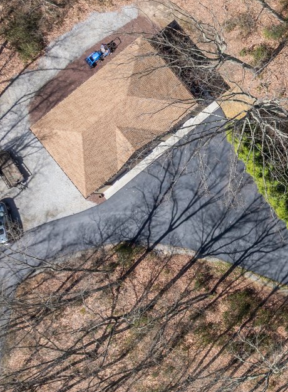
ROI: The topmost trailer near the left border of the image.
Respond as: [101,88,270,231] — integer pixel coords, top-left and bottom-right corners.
[0,150,25,192]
